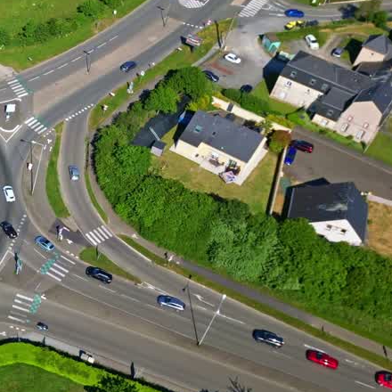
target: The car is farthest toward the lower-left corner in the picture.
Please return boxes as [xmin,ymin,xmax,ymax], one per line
[35,321,51,333]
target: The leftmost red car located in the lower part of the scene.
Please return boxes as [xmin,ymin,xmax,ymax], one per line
[307,352,339,370]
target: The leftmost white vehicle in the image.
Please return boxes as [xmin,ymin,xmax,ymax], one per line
[2,186,16,204]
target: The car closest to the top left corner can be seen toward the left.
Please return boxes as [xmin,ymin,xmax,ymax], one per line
[120,61,138,74]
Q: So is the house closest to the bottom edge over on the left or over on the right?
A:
right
